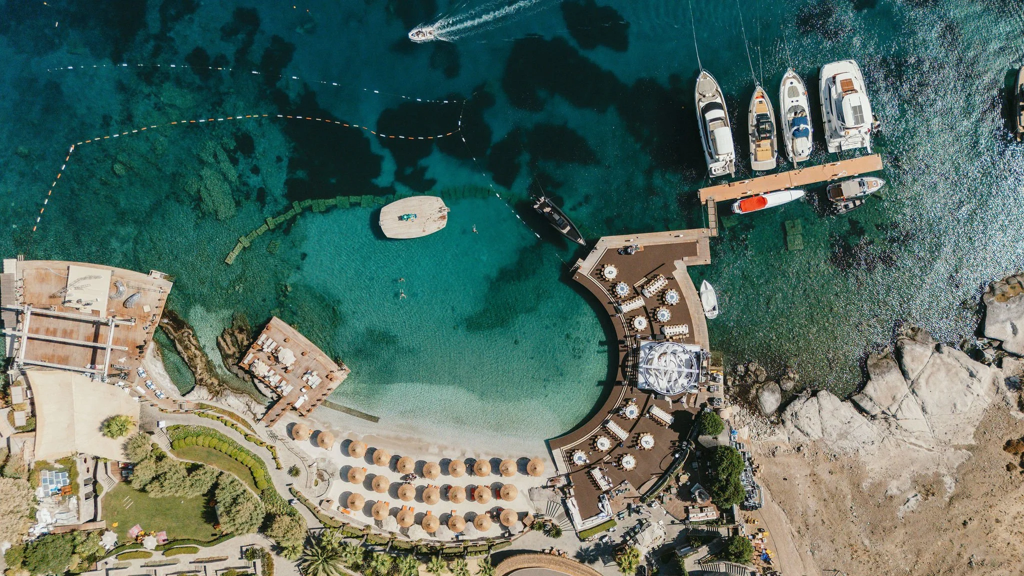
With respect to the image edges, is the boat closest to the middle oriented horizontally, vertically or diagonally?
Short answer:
diagonally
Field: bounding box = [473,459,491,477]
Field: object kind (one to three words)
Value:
umbrella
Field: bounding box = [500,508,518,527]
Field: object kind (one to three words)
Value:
umbrella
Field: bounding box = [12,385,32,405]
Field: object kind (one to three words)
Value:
building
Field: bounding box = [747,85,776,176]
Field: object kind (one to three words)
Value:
boat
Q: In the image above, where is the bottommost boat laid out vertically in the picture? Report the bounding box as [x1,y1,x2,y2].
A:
[700,280,717,320]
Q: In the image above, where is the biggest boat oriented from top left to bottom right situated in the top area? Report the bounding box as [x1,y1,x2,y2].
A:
[530,197,585,245]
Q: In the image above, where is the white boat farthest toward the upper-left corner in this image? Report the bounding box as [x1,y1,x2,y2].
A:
[408,27,435,41]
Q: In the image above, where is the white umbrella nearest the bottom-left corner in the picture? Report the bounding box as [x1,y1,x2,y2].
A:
[102,532,119,548]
